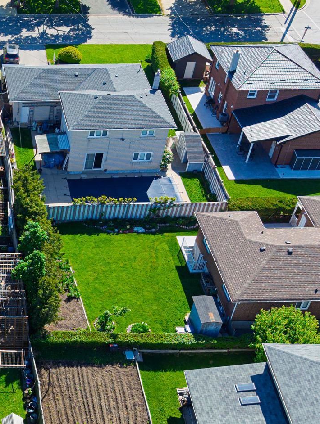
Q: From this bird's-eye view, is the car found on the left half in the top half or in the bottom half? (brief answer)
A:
top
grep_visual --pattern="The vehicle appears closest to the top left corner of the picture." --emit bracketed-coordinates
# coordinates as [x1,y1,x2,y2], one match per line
[1,44,21,64]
